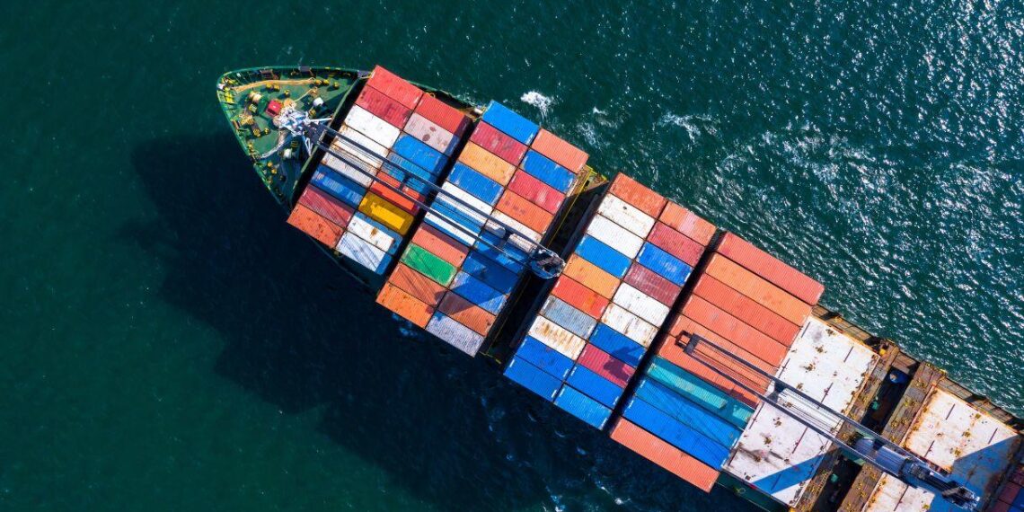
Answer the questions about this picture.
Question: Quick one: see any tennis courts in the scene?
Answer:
No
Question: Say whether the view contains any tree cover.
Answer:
No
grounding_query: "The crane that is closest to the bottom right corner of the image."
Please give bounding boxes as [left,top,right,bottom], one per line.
[673,330,975,510]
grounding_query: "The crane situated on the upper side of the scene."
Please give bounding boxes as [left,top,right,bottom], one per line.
[302,120,565,278]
